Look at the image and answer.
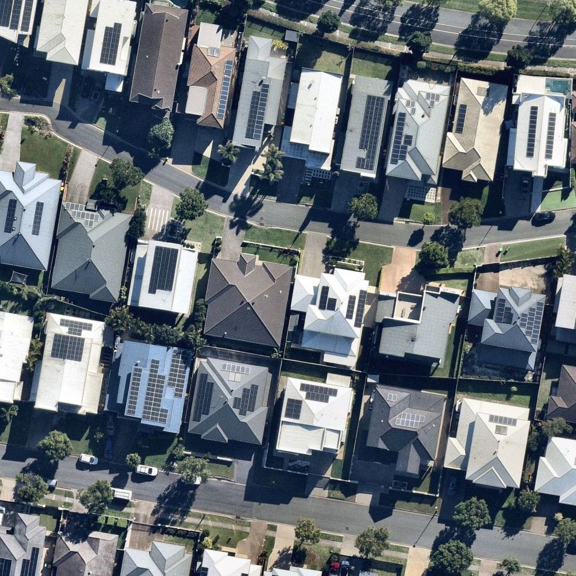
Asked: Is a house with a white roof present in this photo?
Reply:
Yes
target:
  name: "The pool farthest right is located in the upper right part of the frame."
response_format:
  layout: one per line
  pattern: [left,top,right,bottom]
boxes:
[545,79,573,96]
